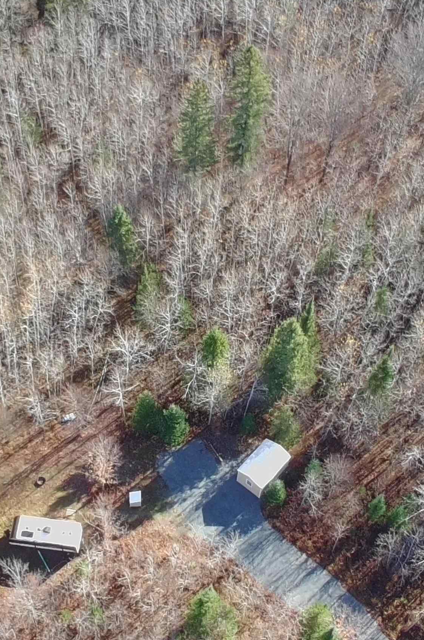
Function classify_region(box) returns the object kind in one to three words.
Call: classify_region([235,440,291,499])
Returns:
shed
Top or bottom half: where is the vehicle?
bottom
